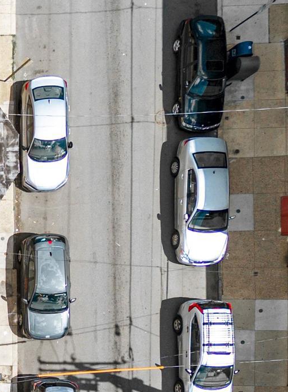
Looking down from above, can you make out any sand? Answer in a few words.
No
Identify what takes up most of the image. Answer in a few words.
paved ground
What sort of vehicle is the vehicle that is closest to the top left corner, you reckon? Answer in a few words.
automobile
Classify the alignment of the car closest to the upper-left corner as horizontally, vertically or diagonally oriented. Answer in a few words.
vertically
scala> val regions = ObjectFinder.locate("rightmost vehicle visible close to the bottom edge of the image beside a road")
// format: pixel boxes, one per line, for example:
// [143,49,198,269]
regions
[175,293,240,392]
